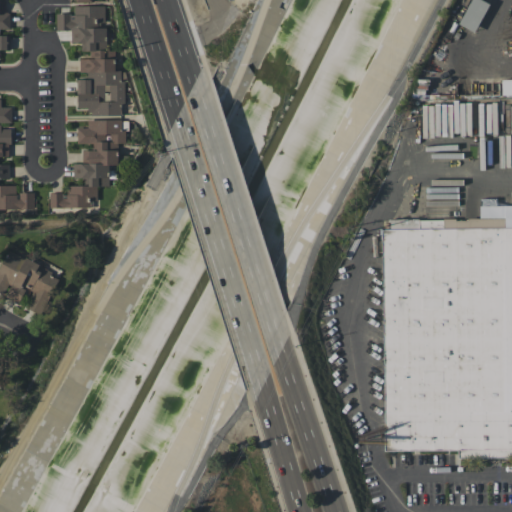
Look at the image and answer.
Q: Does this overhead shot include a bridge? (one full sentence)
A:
Yes, a bridge is visible in the scene.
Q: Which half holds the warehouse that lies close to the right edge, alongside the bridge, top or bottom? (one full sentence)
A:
The bottom half of the photo is where the warehouse that lies close to the right edge, alongside the bridge is.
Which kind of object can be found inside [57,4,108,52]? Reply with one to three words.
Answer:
house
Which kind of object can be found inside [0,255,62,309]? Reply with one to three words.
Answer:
house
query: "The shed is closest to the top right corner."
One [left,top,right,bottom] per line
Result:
[458,0,490,35]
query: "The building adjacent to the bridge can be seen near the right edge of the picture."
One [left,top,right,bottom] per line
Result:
[384,228,512,459]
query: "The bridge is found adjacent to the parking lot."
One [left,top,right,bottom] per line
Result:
[164,58,300,420]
